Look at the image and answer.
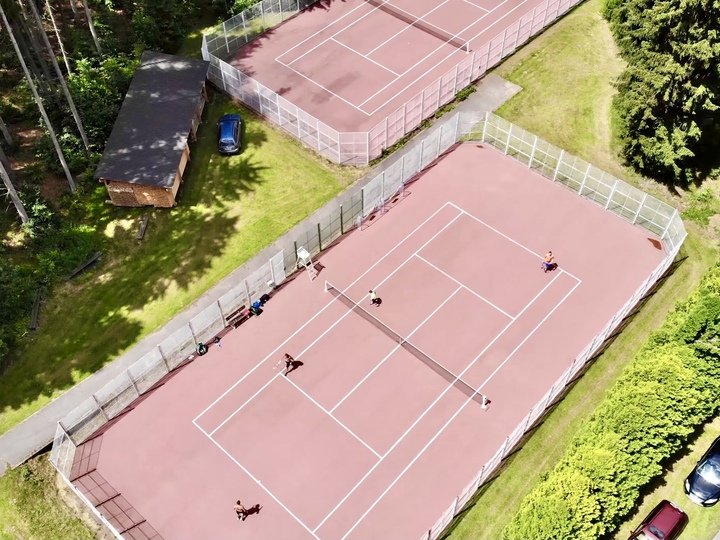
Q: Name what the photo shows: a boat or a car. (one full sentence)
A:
This aerial view contains a car.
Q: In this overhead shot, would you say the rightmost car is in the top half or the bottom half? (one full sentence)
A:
You can find the rightmost car in the bottom half.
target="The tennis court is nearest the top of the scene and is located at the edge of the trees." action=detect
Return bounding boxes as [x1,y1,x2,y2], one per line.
[206,0,581,165]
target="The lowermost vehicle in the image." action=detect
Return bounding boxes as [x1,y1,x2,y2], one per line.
[637,501,694,540]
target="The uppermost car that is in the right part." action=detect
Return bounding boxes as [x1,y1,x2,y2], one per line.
[683,432,720,502]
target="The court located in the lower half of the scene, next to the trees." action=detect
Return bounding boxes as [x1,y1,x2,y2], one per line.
[70,141,669,540]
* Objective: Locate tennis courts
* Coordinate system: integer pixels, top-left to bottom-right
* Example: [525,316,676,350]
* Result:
[206,0,581,165]
[70,141,669,540]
